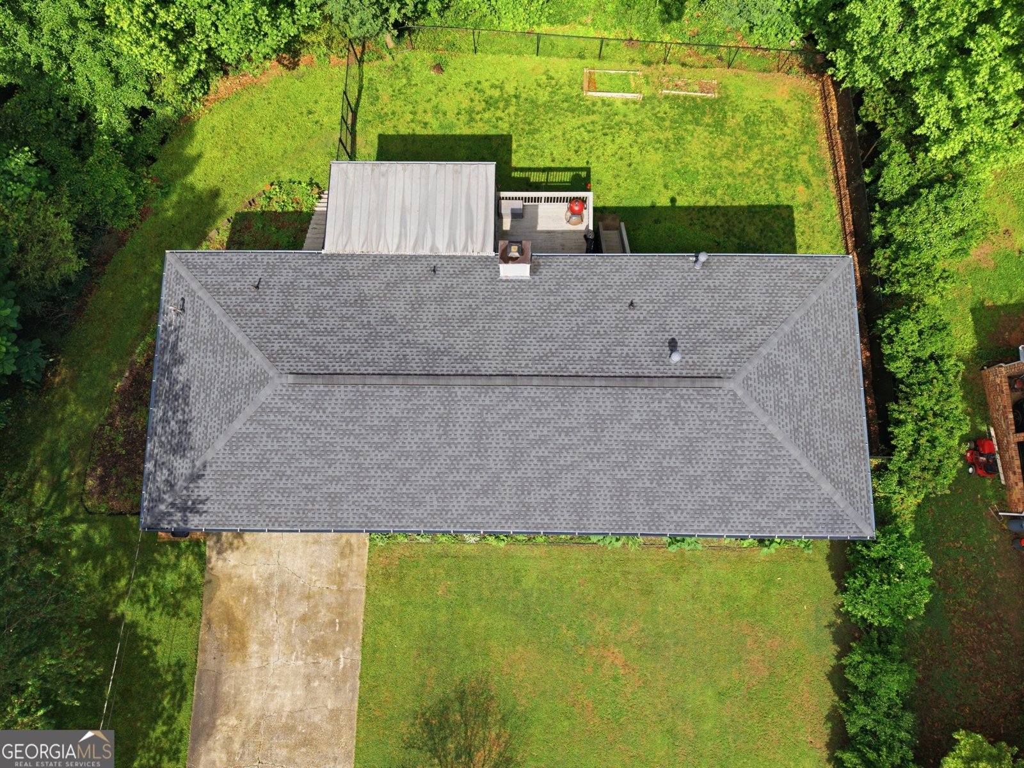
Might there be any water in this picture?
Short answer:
No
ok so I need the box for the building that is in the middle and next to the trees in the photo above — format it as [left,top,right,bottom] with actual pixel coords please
[136,160,878,542]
